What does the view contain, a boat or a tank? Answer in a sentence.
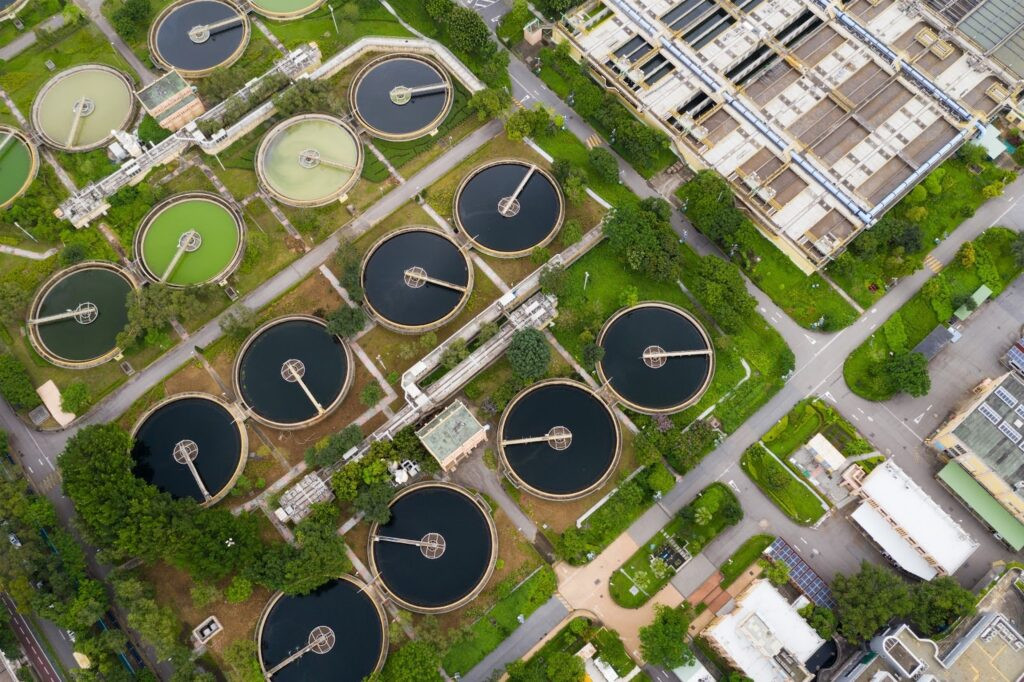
There is a tank in the scene.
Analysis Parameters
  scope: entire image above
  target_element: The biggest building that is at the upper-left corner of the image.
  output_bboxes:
[135,67,204,133]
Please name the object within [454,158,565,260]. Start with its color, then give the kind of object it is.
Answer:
black storage tank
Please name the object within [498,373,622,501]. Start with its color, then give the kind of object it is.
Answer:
black storage tank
